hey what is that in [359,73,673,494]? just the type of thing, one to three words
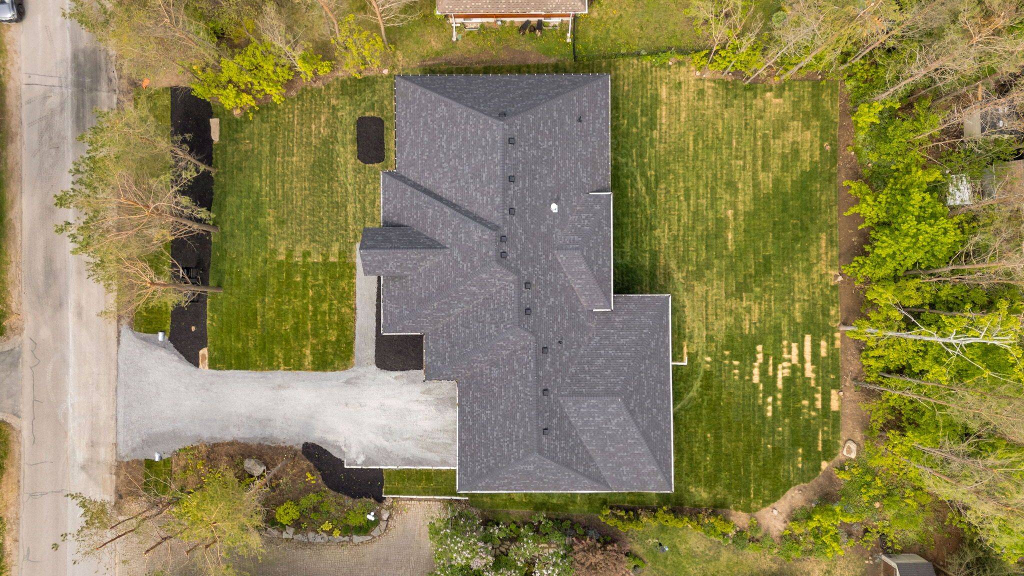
house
